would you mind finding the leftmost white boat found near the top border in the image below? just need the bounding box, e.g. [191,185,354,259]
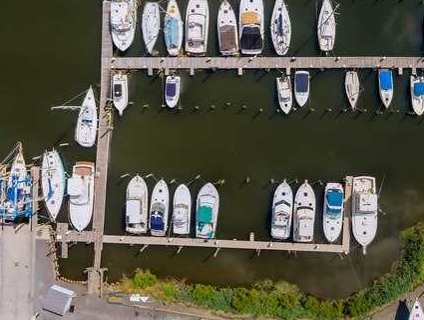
[109,0,137,54]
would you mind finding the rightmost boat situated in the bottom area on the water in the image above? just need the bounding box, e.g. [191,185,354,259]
[343,169,391,258]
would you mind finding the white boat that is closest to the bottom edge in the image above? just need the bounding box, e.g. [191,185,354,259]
[409,297,424,320]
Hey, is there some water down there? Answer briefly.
Yes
